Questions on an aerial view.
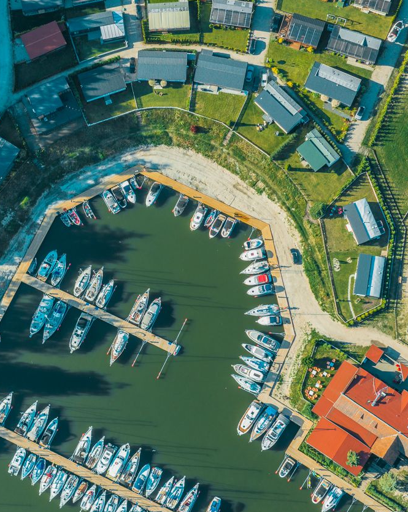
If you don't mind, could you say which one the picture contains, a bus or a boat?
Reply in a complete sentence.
The one in the frame is a boat.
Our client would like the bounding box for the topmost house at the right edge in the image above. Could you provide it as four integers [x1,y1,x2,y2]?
[351,0,392,20]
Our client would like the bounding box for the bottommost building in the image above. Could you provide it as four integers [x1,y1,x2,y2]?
[306,360,408,475]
